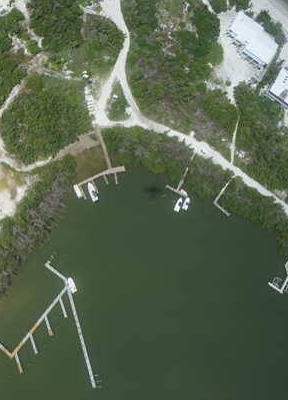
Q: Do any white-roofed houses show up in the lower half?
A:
No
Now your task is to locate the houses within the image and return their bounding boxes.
[262,68,288,111]
[226,11,279,69]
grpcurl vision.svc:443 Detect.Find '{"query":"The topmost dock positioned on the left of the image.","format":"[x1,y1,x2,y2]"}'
[77,128,125,199]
